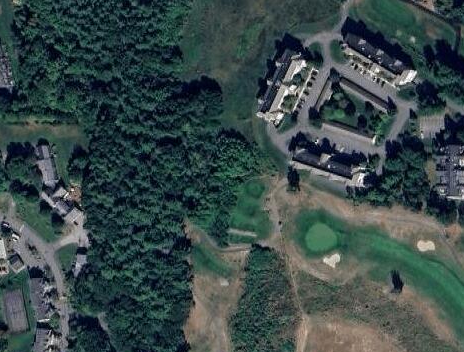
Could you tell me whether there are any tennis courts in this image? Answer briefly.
Yes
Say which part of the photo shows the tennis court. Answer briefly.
bottom left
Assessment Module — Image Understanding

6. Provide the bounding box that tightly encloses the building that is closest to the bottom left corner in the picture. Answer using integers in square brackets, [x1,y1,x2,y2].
[31,325,57,352]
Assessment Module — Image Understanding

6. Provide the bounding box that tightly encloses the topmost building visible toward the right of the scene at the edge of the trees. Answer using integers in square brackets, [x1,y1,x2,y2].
[340,30,417,87]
